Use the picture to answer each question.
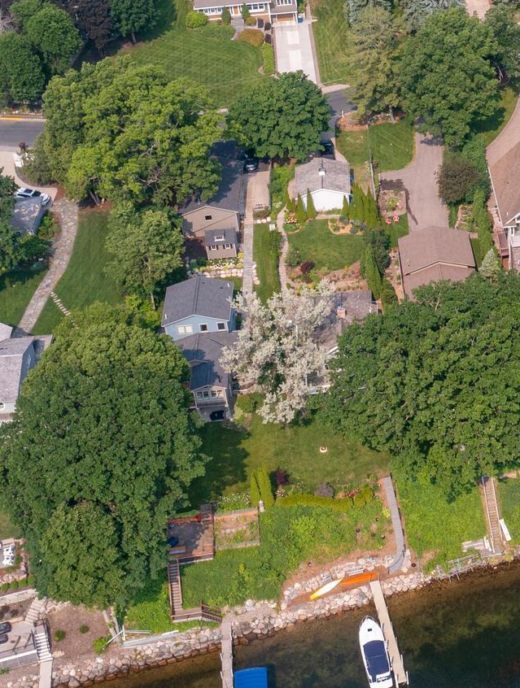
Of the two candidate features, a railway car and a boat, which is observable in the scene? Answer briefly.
boat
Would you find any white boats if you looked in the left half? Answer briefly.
No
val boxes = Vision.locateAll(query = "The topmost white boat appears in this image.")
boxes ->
[310,576,342,597]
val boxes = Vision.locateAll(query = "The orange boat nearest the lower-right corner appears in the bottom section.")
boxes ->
[339,571,377,585]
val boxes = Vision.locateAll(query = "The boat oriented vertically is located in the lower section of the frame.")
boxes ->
[360,614,395,688]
